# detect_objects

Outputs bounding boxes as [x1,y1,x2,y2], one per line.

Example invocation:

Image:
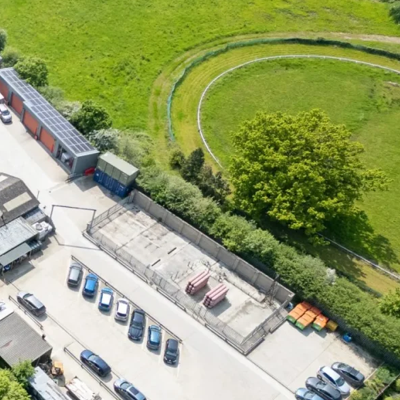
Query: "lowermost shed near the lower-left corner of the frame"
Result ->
[0,300,52,375]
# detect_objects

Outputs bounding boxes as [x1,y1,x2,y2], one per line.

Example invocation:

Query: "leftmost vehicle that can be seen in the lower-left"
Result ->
[16,292,47,317]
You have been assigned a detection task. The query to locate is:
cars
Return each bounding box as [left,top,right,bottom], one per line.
[67,264,83,286]
[328,361,368,392]
[145,326,163,351]
[317,367,350,395]
[98,289,115,312]
[83,274,99,297]
[127,309,146,342]
[0,103,11,122]
[114,298,131,323]
[79,349,112,378]
[112,378,147,400]
[16,292,47,317]
[294,387,325,400]
[305,377,344,400]
[162,337,180,365]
